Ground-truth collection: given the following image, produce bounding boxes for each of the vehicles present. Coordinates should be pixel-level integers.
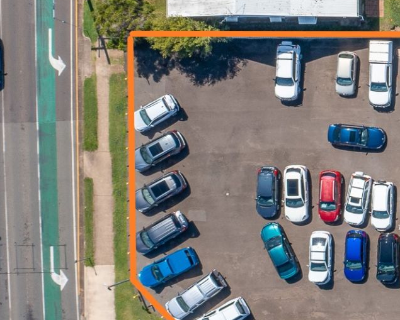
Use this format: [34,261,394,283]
[133,93,183,131]
[374,234,400,285]
[341,170,373,227]
[367,178,395,231]
[264,222,300,281]
[328,124,388,151]
[137,171,189,208]
[199,296,251,320]
[253,166,282,218]
[333,51,360,96]
[366,40,394,109]
[139,247,201,289]
[341,231,368,282]
[306,231,334,285]
[136,211,191,255]
[315,171,342,223]
[168,270,228,320]
[282,165,310,223]
[135,130,189,166]
[273,41,302,102]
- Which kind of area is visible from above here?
parking lot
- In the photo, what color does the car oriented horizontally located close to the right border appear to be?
blue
